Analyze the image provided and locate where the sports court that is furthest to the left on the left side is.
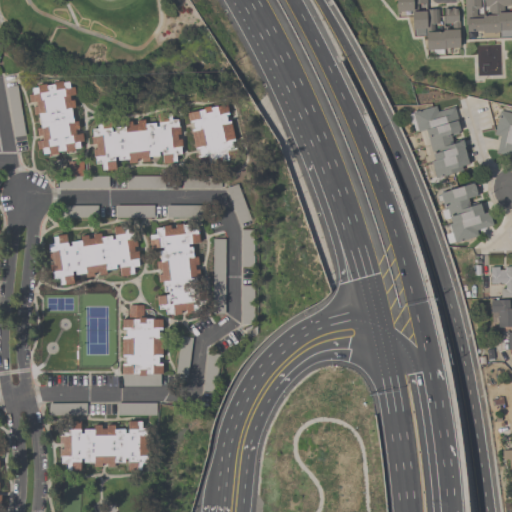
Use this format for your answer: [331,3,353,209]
[43,296,78,314]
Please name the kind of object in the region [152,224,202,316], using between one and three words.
building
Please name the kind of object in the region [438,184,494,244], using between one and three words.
house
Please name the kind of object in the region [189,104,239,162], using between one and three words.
building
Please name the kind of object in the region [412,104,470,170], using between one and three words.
house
